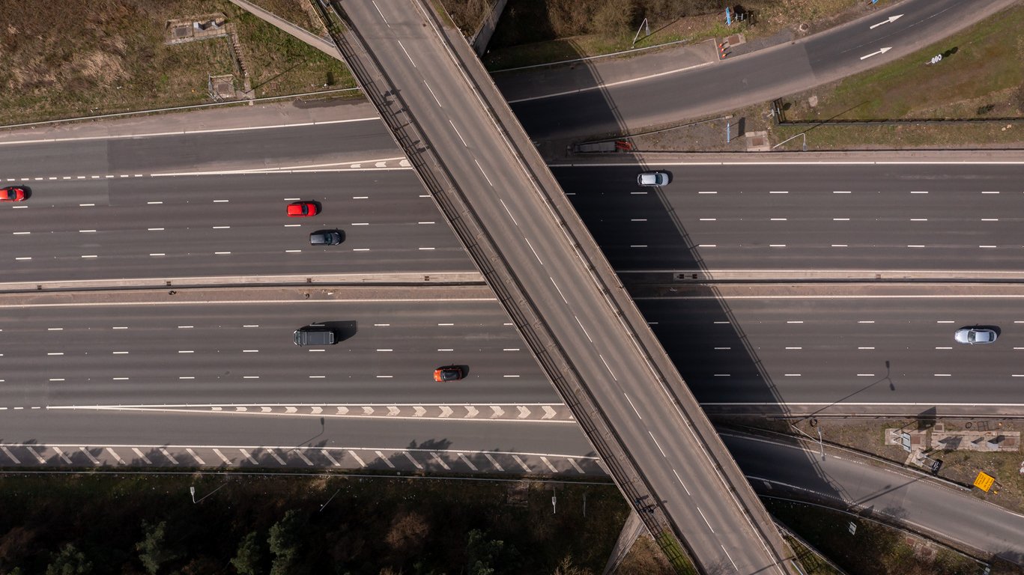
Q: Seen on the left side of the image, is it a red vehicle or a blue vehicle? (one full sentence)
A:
Visible on the left side of the image is a red vehicle.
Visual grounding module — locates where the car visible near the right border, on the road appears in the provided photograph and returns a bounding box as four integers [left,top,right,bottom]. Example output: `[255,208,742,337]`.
[955,328,996,346]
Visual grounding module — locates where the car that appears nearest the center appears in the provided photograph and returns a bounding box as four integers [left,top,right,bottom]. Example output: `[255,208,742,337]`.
[434,367,463,383]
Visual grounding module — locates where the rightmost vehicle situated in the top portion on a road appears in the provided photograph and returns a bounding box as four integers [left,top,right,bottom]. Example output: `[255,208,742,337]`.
[637,171,670,188]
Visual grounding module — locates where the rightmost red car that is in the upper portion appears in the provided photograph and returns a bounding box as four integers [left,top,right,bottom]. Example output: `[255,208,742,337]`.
[288,201,318,218]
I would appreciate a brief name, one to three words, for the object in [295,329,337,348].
vehicle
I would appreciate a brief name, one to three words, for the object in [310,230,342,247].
car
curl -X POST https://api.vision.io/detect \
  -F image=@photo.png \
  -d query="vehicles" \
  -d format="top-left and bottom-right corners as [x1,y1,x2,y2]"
[434,367,463,383]
[288,201,318,218]
[0,186,26,203]
[955,328,996,346]
[637,171,670,188]
[295,329,337,348]
[310,230,342,247]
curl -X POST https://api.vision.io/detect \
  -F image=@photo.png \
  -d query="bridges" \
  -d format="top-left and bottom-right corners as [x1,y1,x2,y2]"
[304,0,809,575]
